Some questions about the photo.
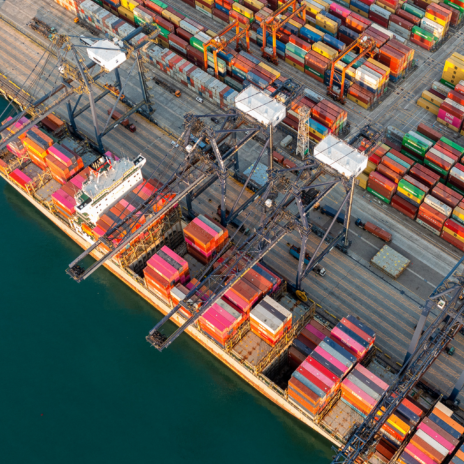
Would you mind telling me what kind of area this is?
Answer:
port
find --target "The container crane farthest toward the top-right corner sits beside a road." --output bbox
[327,32,377,101]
